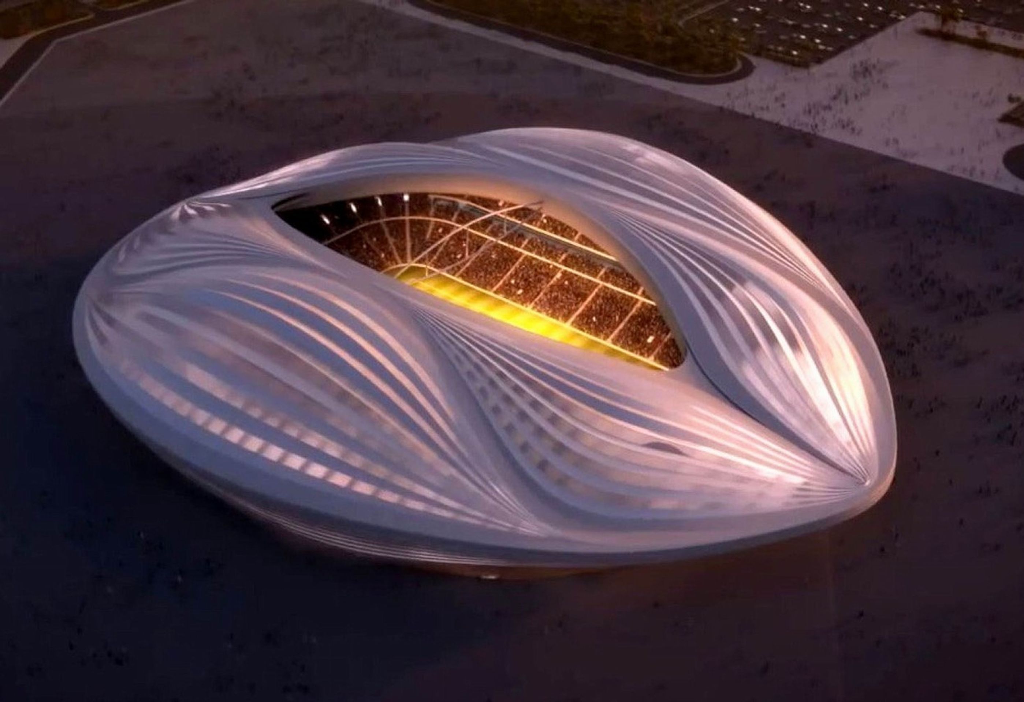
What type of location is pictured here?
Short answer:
sports ground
